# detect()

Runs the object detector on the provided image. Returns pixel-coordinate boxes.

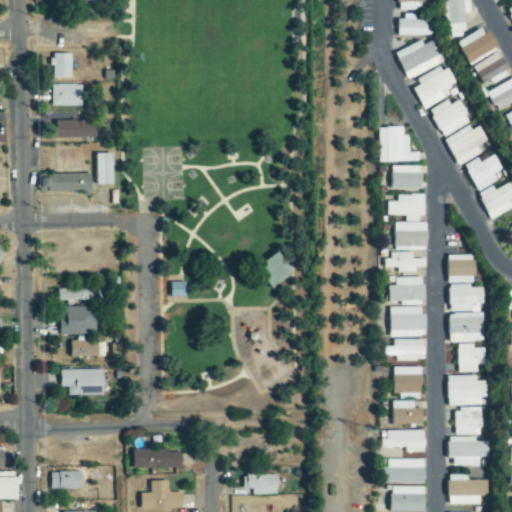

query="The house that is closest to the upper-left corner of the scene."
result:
[52,52,73,78]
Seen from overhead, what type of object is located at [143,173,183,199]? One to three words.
basketball court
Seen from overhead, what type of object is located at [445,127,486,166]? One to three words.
house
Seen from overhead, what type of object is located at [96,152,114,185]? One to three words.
barn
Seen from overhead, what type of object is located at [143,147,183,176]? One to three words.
basketball court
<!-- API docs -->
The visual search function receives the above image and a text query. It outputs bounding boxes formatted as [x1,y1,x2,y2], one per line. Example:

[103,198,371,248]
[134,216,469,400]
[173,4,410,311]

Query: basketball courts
[143,173,183,199]
[143,147,183,176]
